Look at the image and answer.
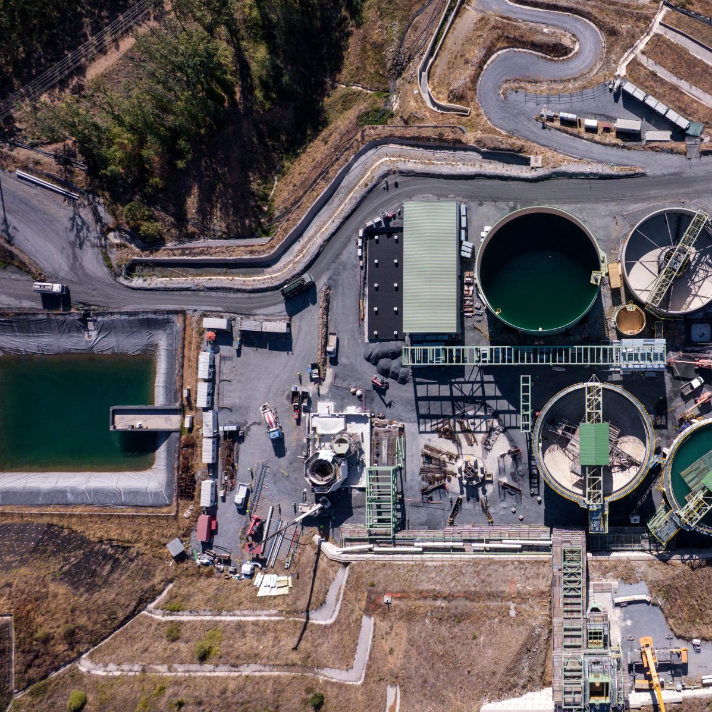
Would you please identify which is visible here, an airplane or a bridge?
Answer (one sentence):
There is a bridge in the scene.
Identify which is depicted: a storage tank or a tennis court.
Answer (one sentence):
Visible in the photo is a storage tank.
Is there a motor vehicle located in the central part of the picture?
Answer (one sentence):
Yes, there is a motor vehicle in the central part of the picture.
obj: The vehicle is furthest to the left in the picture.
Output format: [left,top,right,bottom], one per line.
[31,282,70,295]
